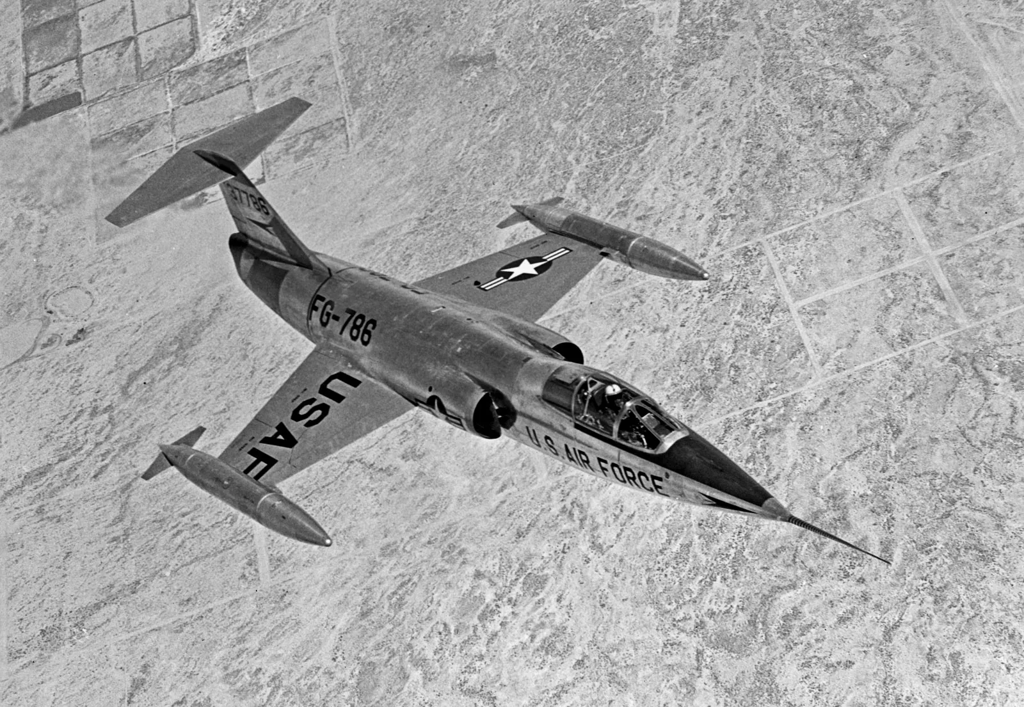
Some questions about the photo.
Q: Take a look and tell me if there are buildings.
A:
No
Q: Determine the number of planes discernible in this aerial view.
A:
one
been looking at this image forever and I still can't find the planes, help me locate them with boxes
[106,99,891,565]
